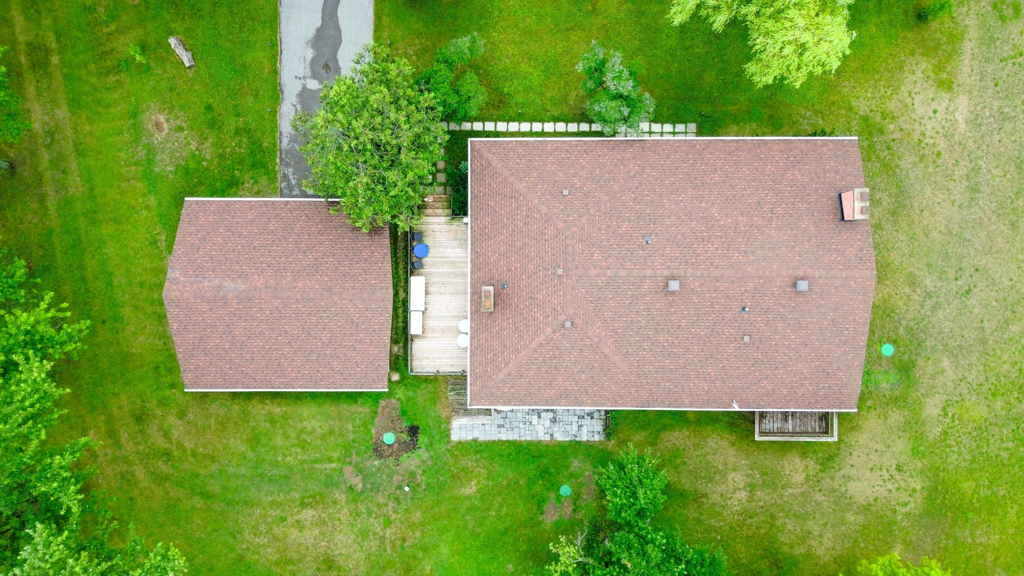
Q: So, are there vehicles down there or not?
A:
No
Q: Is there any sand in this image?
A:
No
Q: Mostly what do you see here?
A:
grass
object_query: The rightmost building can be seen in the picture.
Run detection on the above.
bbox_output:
[467,137,877,412]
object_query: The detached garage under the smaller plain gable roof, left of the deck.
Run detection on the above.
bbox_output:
[162,198,394,391]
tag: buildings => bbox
[467,137,877,412]
[162,198,394,391]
